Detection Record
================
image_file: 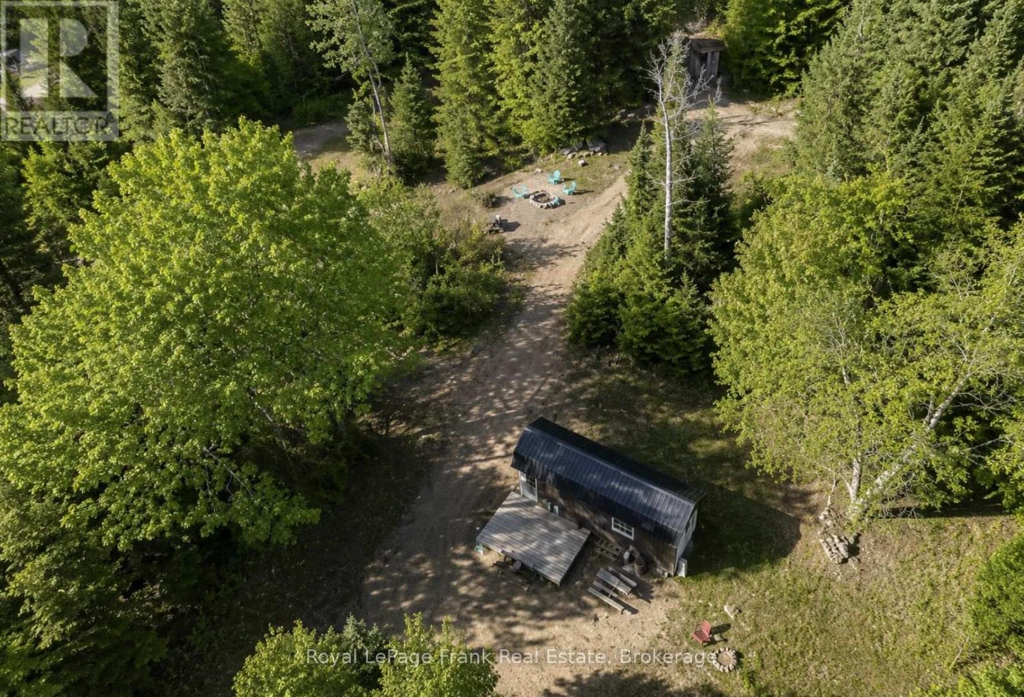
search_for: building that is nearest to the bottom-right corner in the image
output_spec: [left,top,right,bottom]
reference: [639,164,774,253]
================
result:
[515,420,706,575]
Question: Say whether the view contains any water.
No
